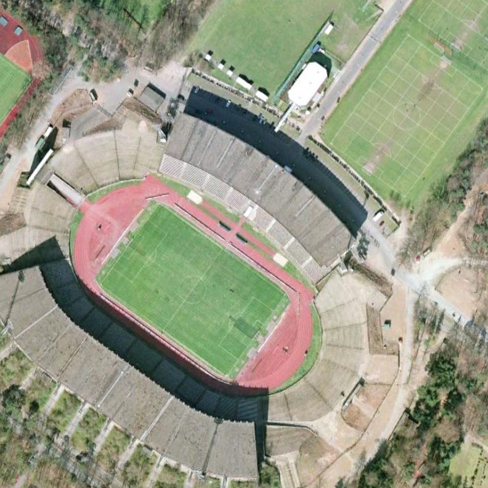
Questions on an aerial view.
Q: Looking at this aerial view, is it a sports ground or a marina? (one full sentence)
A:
This image shows a sports ground.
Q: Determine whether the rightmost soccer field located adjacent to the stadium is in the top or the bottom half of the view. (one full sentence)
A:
It is in the top half that the rightmost soccer field located adjacent to the stadium appears.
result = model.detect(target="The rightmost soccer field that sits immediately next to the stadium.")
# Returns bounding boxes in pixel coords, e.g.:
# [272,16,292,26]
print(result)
[332,35,482,197]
